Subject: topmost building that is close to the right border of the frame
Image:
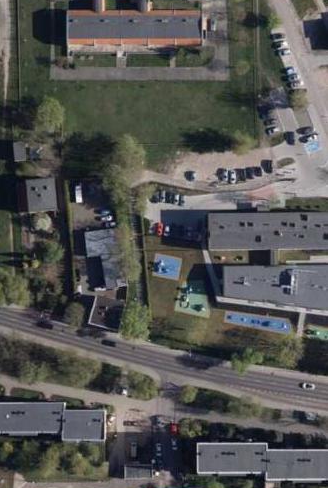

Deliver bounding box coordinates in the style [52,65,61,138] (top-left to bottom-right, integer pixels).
[209,202,328,250]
